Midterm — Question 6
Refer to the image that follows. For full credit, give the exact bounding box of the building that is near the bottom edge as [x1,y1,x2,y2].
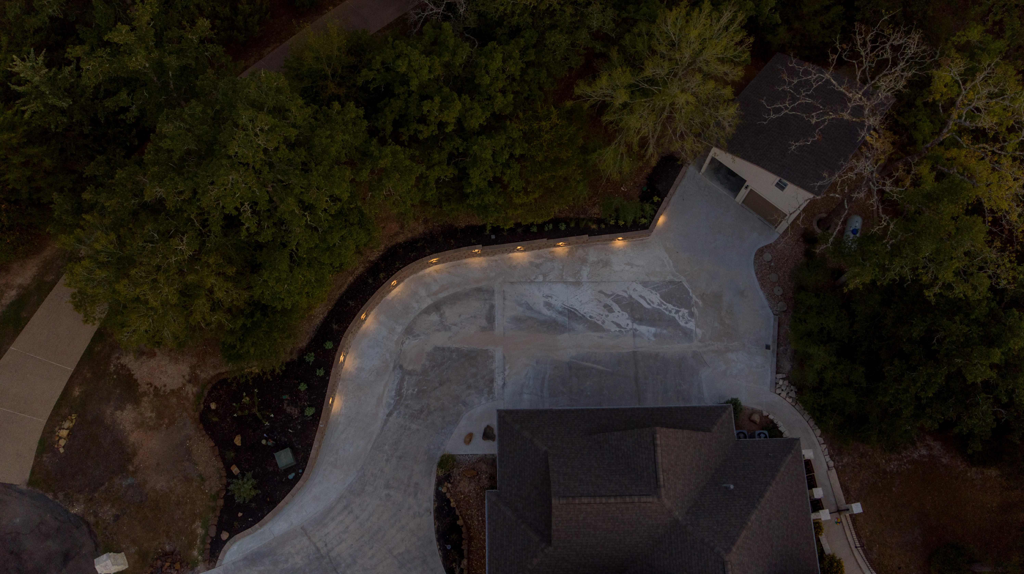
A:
[483,402,825,574]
